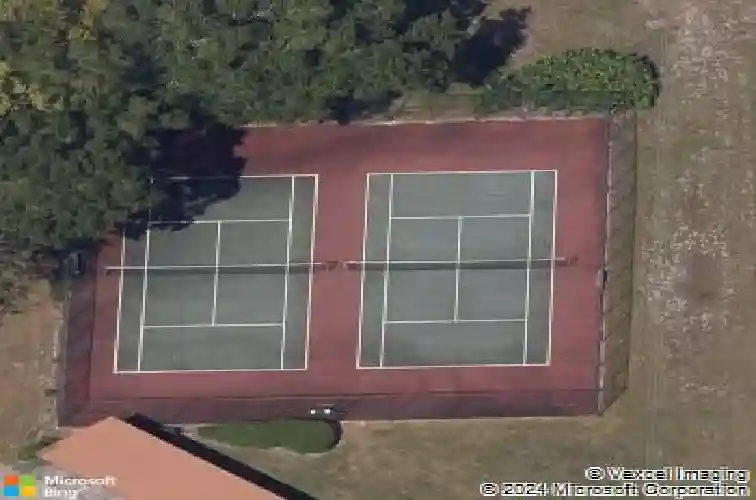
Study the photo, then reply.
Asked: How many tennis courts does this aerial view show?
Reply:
2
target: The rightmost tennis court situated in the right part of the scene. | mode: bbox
[357,171,554,368]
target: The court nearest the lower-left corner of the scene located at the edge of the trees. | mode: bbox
[114,175,317,371]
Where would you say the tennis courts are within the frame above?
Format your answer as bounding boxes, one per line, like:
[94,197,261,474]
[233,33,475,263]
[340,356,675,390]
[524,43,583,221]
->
[114,175,317,371]
[357,171,554,368]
